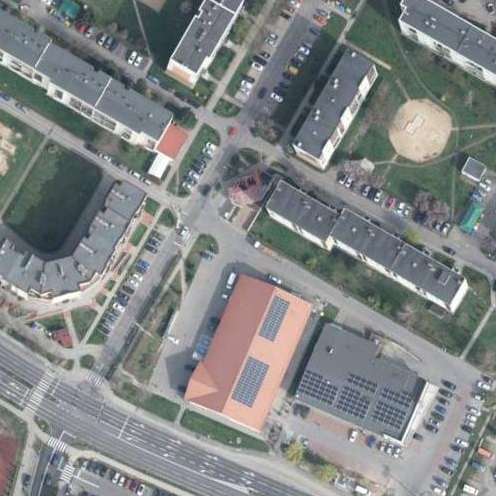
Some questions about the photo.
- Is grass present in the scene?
Yes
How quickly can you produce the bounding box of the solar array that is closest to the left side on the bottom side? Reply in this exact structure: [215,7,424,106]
[233,357,269,408]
